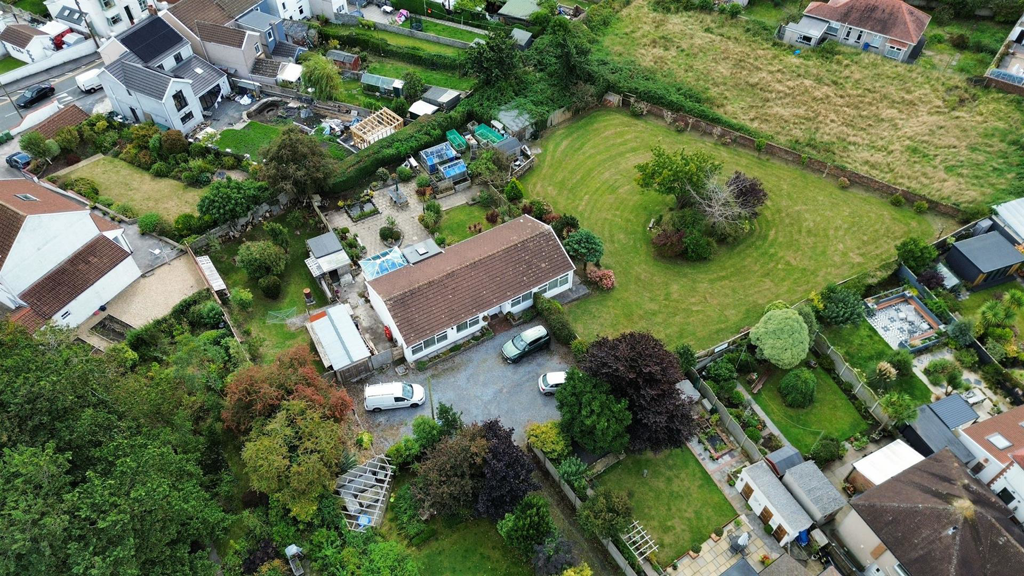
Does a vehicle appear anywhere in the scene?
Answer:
Yes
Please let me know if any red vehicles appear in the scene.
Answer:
No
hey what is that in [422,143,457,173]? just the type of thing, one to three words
greenhouse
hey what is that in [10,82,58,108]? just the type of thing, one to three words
car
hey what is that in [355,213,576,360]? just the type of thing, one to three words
house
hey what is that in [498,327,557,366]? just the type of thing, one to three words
car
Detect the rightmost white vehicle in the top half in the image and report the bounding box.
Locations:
[69,65,102,92]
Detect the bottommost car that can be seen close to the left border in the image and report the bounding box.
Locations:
[0,148,34,172]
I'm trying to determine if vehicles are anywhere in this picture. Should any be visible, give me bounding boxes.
[498,327,557,366]
[10,82,58,108]
[533,370,586,402]
[364,383,424,418]
[69,65,102,92]
[0,148,34,172]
